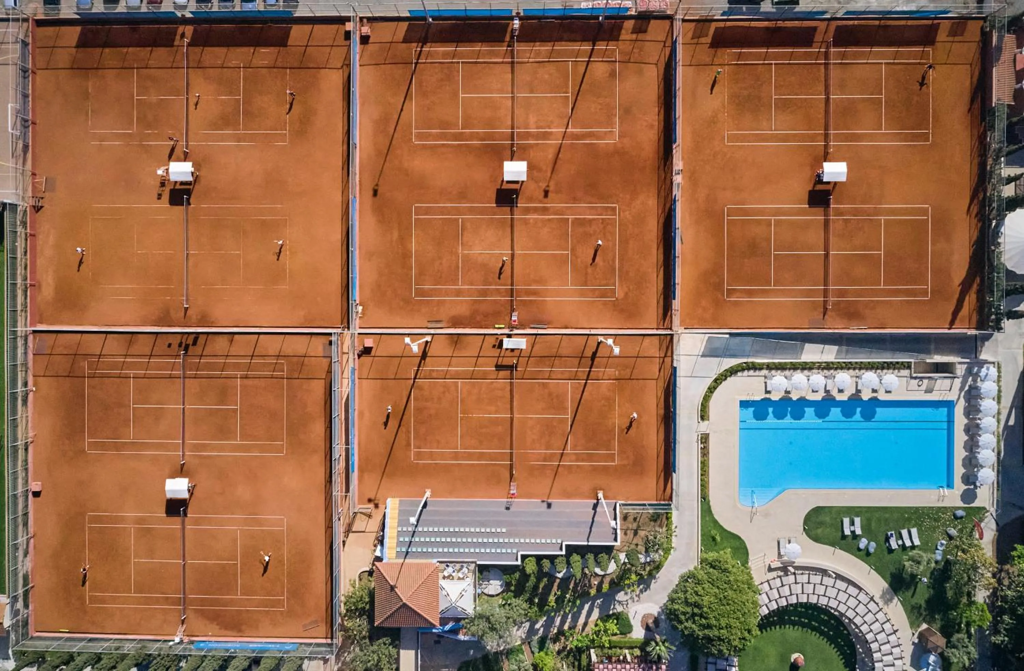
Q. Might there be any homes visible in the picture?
Yes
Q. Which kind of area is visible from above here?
sports ground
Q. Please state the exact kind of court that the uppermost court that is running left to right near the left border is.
tennis court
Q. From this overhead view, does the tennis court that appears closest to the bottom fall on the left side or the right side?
left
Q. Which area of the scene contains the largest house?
bottom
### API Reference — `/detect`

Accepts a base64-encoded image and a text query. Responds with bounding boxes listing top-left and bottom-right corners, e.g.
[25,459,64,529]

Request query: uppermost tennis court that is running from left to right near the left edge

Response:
[37,20,354,175]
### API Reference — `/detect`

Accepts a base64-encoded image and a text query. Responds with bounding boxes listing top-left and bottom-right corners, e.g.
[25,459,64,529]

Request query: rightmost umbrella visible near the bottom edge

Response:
[916,651,939,671]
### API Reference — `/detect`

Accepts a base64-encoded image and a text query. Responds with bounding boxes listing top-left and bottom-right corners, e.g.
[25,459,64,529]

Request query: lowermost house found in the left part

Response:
[374,558,440,627]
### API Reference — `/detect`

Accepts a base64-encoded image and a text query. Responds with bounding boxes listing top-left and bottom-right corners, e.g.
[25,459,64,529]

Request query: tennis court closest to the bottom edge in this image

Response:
[34,486,336,639]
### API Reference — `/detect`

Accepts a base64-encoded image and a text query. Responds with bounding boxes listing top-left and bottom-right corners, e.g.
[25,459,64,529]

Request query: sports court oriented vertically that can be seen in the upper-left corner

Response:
[0,20,28,199]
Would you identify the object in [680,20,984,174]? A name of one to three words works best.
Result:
tennis court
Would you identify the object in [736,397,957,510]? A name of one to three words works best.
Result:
swimming pool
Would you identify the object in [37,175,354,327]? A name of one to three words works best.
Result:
tennis court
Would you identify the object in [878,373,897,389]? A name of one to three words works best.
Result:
umbrella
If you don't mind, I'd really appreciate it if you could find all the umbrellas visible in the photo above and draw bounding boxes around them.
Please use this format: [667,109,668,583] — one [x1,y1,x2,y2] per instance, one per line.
[832,373,850,389]
[878,373,897,389]
[974,434,994,450]
[860,373,877,390]
[974,417,996,435]
[770,375,788,392]
[790,372,808,390]
[807,375,824,392]
[916,651,939,671]
[975,365,996,382]
[974,399,997,417]
[972,449,992,466]
[975,381,995,397]
[971,469,993,486]
[784,541,801,558]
